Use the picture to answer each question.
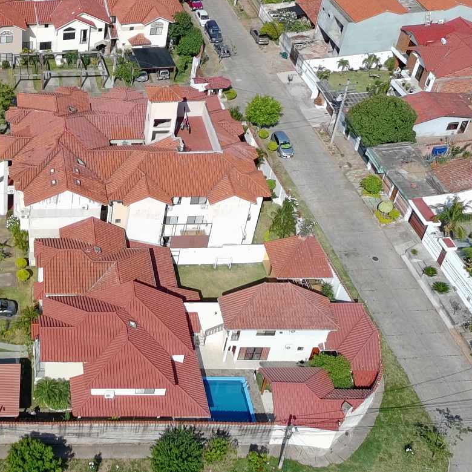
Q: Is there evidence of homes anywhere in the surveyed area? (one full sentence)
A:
Yes, there is a home in the image.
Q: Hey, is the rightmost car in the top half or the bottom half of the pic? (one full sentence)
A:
It is in the top half that the rightmost car appears.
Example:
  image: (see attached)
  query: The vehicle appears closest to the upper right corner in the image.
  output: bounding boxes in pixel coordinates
[250,30,270,45]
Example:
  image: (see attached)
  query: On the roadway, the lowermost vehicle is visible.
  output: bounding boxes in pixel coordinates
[268,130,295,158]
